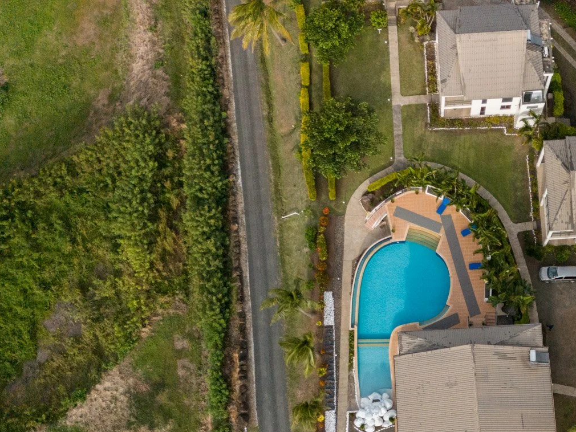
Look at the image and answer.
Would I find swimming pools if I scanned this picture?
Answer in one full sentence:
Yes, the image includes a swimming pool.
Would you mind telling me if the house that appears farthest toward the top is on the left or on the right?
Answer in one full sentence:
You can find the house that appears farthest toward the top on the right side of the picture.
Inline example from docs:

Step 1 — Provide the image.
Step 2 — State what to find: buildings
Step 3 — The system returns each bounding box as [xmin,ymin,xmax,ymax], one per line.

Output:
[436,0,554,123]
[395,324,557,432]
[538,137,576,244]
